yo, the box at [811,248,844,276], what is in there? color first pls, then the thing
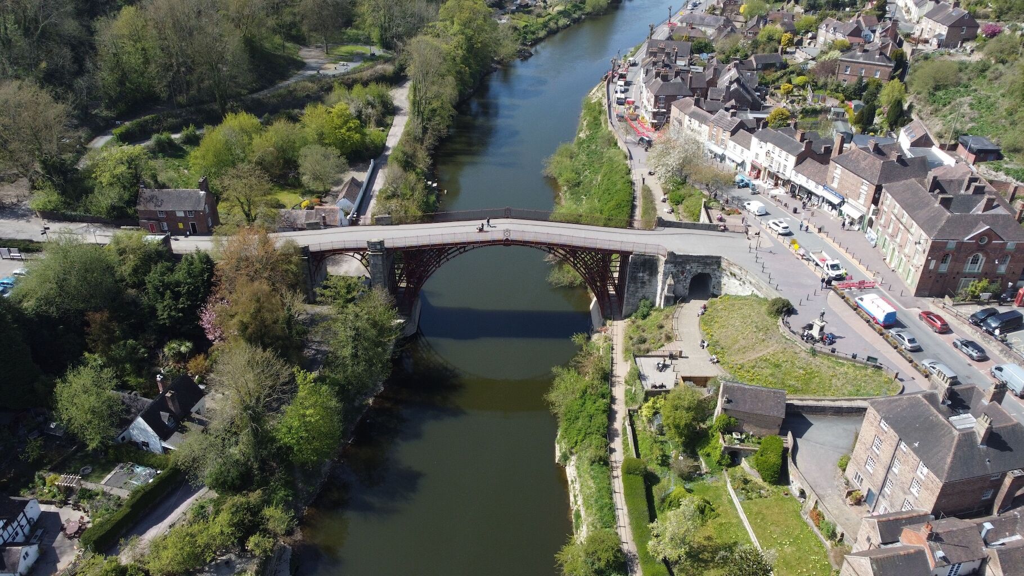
white truck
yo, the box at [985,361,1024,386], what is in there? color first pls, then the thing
white vehicle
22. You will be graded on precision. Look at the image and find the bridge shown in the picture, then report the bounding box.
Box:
[296,208,732,337]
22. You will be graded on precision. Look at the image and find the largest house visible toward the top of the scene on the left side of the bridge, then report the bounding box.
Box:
[137,177,227,237]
